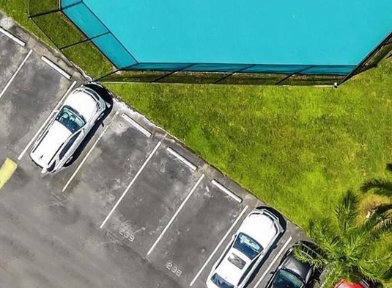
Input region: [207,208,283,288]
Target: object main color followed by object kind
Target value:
white car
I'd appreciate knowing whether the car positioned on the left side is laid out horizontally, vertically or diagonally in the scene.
diagonally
